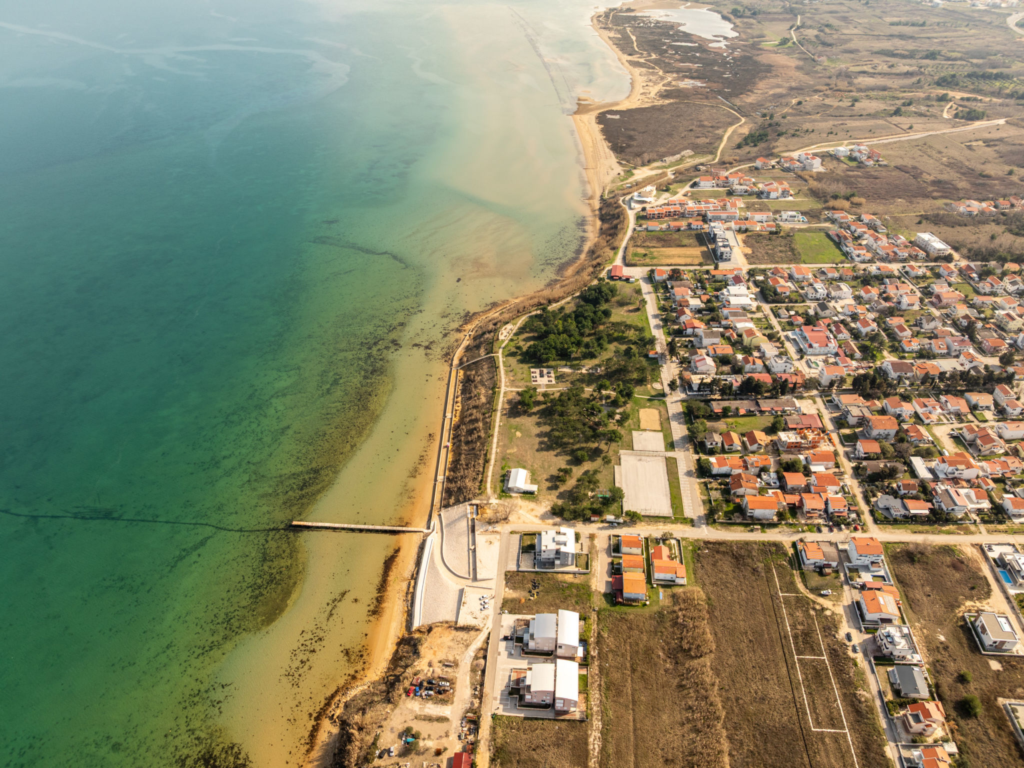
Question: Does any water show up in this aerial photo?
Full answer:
Yes, water can be seen from above here.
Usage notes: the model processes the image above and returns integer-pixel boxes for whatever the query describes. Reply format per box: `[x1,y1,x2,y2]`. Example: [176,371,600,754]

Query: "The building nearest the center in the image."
[509,467,527,491]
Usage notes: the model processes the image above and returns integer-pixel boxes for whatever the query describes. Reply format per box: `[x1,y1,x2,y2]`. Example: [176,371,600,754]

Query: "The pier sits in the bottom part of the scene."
[291,520,428,533]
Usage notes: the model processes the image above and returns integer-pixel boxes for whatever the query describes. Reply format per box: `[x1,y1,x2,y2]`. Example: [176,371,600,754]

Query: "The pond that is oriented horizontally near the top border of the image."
[624,8,739,47]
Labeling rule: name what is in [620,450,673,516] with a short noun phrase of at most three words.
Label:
sports court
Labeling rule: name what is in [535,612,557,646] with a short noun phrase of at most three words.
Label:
house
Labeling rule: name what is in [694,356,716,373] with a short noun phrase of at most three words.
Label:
house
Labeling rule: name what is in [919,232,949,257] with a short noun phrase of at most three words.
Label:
building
